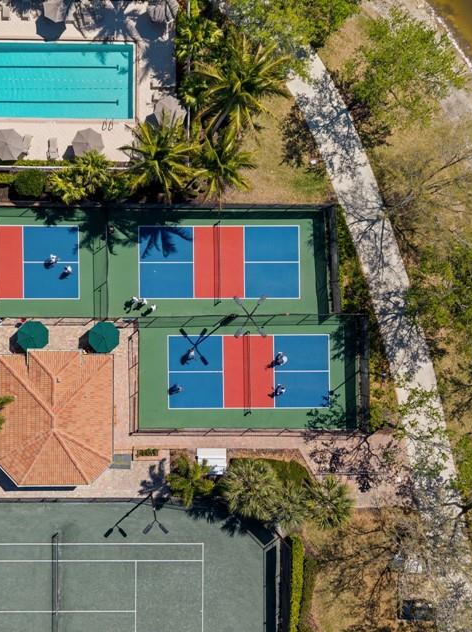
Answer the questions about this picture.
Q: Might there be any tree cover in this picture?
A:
Yes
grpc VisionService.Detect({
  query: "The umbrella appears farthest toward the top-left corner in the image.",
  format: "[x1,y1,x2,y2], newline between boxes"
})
[41,0,76,33]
